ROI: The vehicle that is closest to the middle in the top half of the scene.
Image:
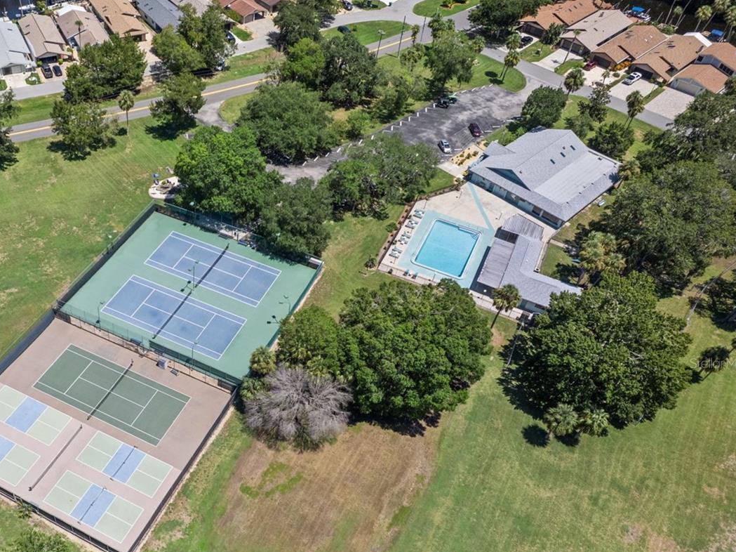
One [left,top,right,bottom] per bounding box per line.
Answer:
[438,138,453,153]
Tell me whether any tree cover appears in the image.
Yes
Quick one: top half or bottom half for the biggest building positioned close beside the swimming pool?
top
